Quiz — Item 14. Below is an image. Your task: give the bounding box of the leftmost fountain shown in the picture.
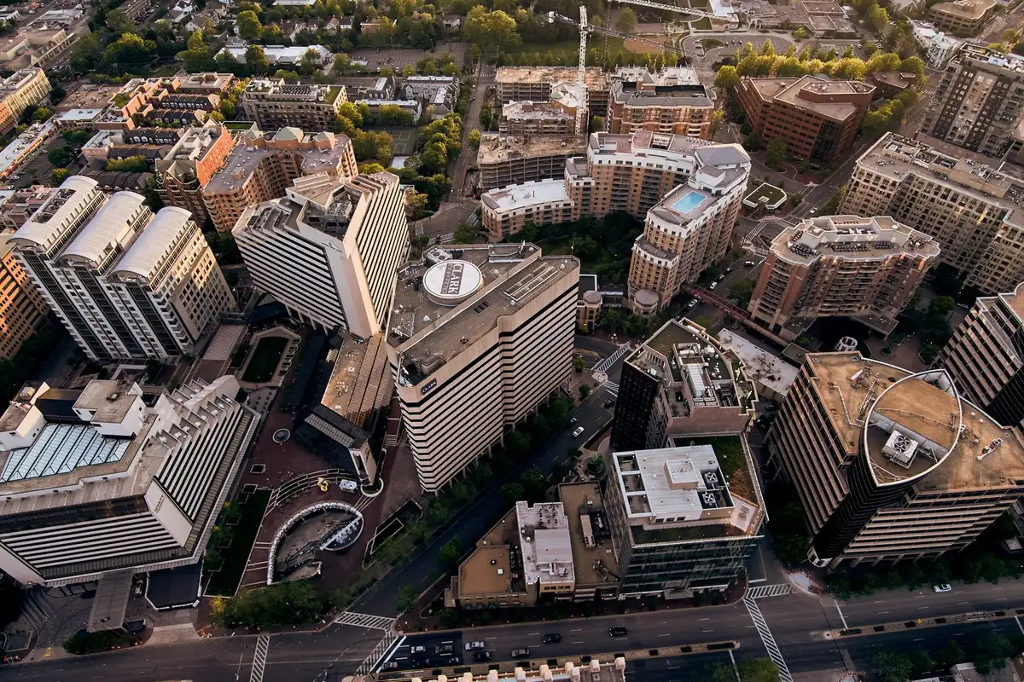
[270,426,293,445]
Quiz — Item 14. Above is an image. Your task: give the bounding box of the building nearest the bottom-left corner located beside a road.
[0,378,261,633]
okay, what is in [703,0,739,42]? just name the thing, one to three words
building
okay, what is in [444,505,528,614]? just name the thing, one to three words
building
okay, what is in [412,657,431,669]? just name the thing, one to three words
vehicle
